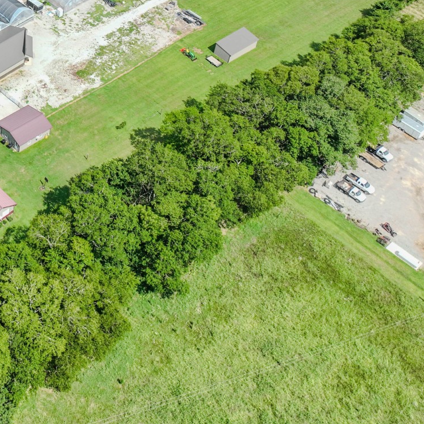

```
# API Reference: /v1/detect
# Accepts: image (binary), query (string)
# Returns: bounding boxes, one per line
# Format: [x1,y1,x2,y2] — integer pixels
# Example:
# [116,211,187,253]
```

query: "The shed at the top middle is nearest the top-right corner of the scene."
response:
[213,25,259,63]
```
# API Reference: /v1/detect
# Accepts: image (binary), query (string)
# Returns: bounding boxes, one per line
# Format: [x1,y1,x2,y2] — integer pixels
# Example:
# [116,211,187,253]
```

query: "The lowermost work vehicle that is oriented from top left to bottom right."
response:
[381,220,400,239]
